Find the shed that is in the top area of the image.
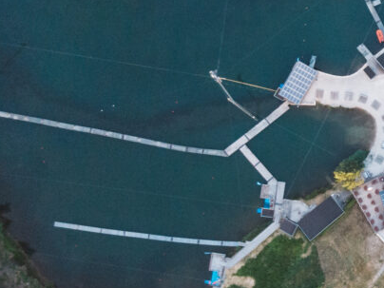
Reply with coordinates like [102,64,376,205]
[274,57,319,105]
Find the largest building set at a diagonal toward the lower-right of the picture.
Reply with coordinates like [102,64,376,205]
[297,195,345,240]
